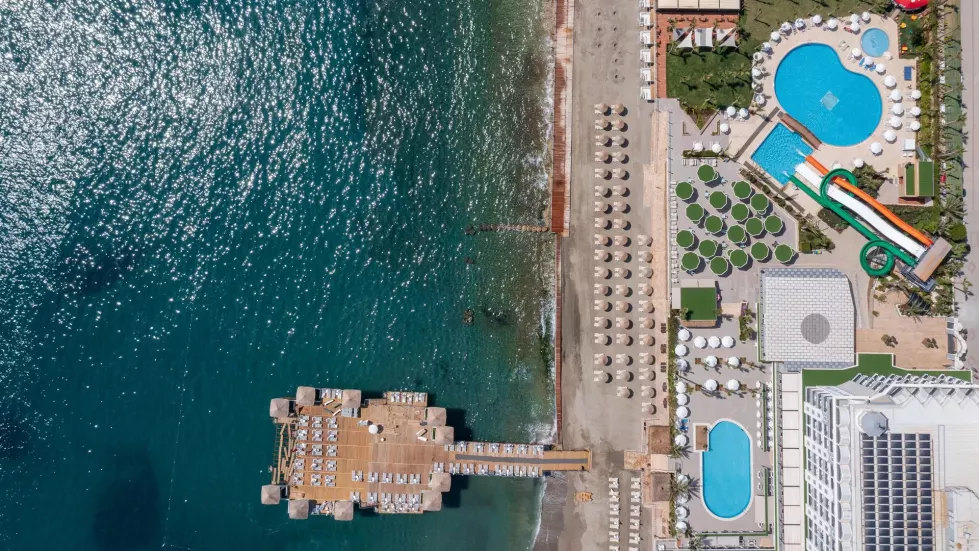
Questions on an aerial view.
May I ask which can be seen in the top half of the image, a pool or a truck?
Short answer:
pool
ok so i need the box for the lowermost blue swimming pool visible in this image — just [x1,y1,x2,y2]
[700,417,754,521]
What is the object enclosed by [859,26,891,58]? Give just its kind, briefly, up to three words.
swimming pool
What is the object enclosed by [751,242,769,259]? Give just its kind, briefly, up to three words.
umbrella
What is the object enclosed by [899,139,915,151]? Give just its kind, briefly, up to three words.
gazebo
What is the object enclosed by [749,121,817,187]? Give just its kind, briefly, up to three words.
swimming pool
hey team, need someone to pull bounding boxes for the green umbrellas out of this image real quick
[710,256,728,275]
[686,204,704,221]
[698,165,715,182]
[675,182,692,199]
[764,215,782,232]
[733,181,751,198]
[706,215,723,232]
[751,242,769,259]
[709,191,727,209]
[731,203,749,220]
[699,240,716,257]
[746,218,763,235]
[774,244,793,262]
[751,193,768,210]
[729,250,747,267]
[728,226,745,243]
[676,230,693,247]
[682,252,699,269]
